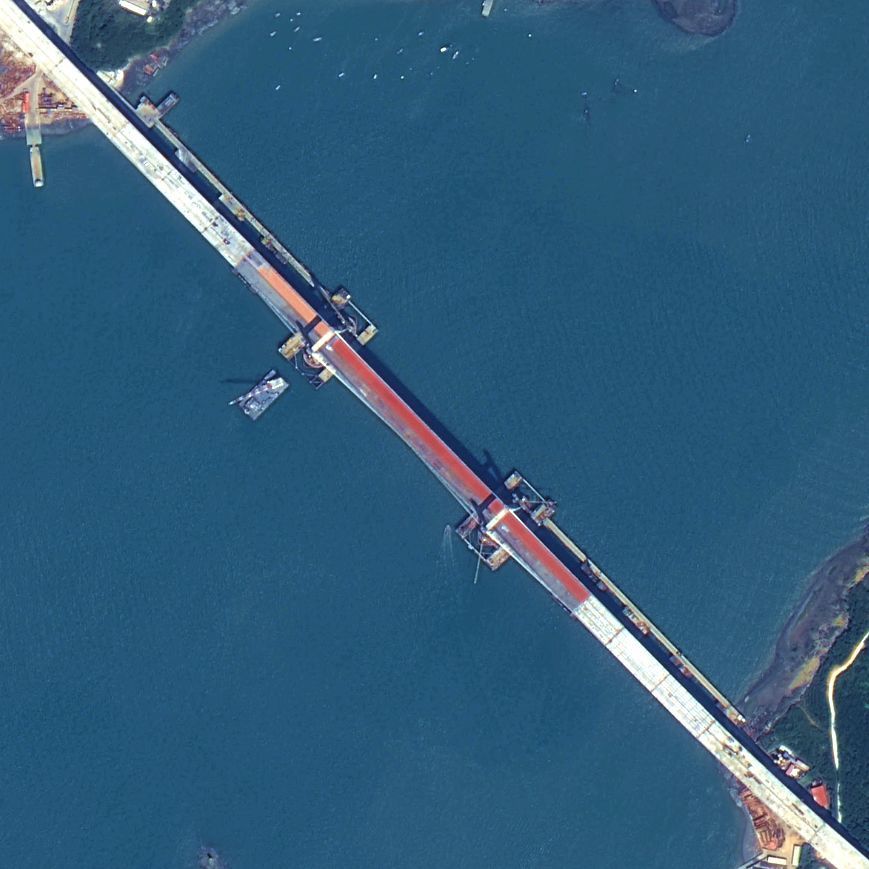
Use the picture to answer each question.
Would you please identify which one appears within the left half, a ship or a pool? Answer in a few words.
ship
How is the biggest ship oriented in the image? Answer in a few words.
on a diagonal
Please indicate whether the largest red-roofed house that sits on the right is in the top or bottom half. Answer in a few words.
bottom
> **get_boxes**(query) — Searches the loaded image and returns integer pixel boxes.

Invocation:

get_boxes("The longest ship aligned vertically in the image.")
[31,148,43,187]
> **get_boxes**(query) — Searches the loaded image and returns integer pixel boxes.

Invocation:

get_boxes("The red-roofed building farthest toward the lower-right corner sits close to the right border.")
[810,785,830,810]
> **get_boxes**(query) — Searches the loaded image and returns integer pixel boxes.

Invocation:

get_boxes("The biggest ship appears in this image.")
[228,367,289,419]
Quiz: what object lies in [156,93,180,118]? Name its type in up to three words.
ship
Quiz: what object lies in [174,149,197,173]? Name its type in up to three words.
ship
